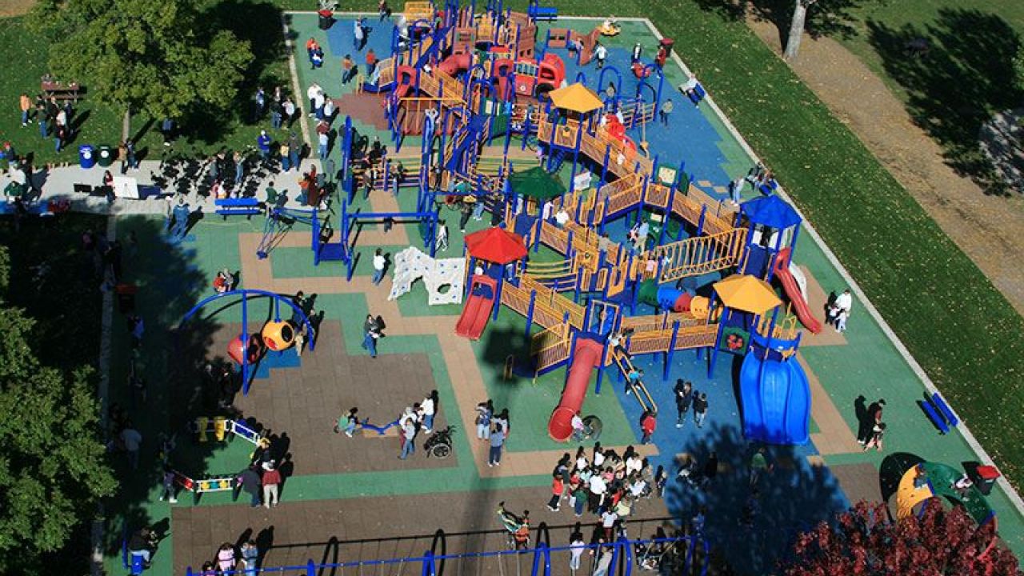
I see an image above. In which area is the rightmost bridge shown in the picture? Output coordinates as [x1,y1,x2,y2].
[648,229,756,282]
